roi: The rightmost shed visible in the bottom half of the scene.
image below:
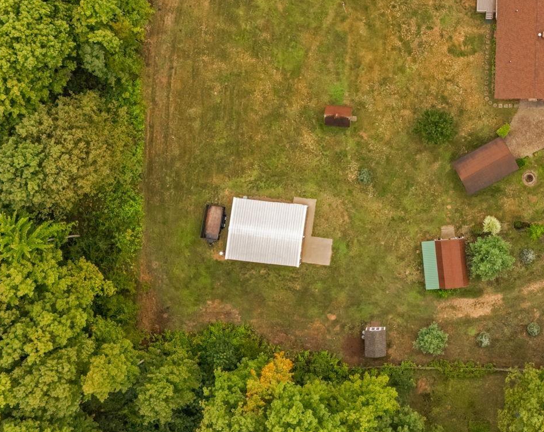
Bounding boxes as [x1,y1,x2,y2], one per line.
[435,234,469,289]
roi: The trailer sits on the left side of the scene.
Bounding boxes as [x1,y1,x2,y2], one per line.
[201,203,224,245]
